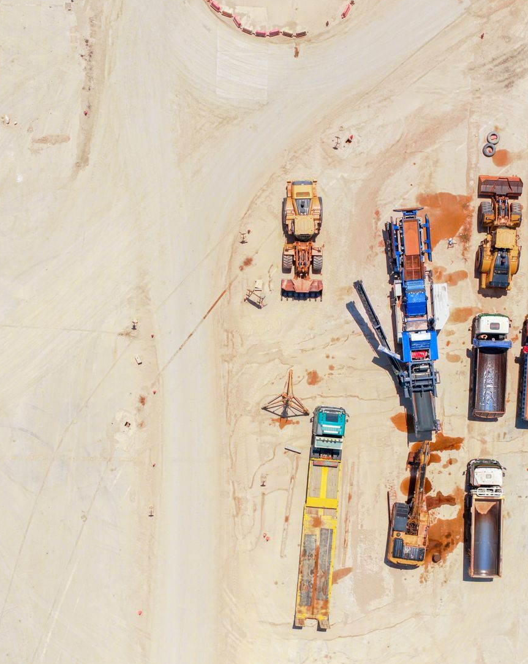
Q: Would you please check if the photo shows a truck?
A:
Yes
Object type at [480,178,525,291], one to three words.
work vehicle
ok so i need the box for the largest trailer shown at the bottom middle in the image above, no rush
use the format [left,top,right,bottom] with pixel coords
[296,459,342,628]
